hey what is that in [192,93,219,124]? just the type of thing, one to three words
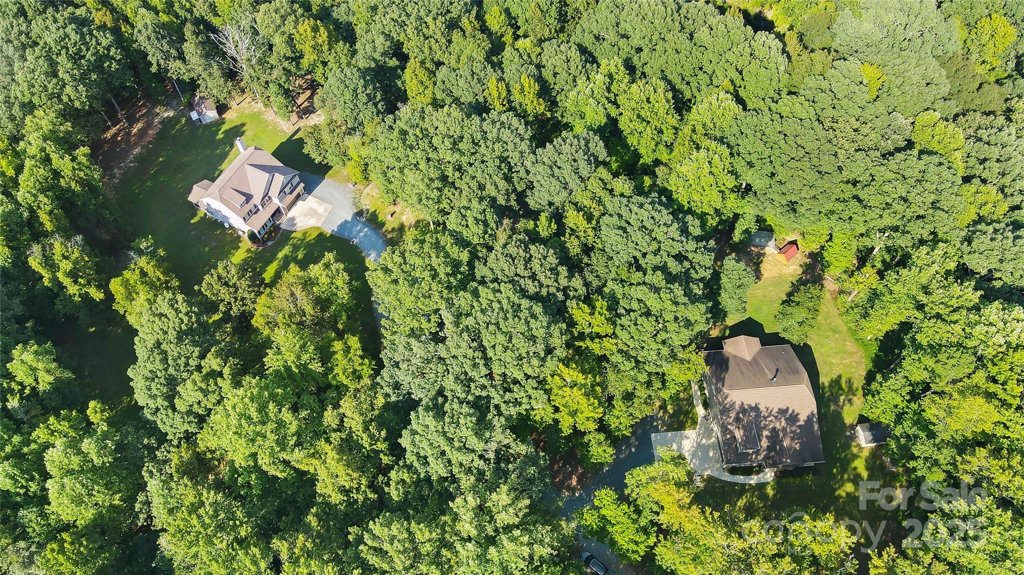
shed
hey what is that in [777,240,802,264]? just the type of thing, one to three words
shed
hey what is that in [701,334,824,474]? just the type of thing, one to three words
house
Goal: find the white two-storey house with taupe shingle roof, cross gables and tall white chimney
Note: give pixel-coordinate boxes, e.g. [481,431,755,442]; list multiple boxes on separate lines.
[187,135,305,239]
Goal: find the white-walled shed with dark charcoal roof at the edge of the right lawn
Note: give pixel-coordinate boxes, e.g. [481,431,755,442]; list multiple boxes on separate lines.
[855,422,891,447]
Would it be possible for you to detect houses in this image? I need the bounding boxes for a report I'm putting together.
[701,334,824,474]
[187,135,305,239]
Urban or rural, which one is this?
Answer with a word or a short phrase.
rural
